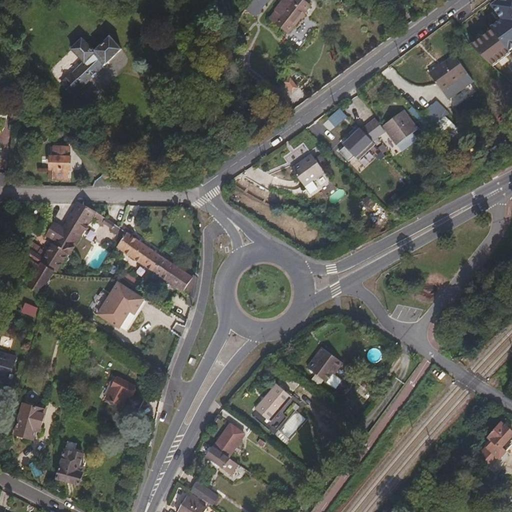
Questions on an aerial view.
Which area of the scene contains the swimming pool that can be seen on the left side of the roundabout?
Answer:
left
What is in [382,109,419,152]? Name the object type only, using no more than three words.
house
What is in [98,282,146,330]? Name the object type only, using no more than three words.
house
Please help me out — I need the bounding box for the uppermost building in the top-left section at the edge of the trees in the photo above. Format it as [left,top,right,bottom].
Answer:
[70,35,122,81]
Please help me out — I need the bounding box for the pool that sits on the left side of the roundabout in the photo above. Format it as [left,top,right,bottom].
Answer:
[87,247,107,268]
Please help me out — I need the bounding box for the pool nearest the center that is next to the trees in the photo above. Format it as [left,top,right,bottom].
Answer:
[328,190,347,202]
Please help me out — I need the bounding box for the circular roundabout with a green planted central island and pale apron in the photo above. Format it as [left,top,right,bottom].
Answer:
[216,242,314,342]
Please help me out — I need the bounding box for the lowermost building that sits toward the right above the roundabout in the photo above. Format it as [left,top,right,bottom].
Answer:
[292,154,329,194]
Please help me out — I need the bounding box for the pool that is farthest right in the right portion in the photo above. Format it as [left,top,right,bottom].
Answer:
[367,347,382,362]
